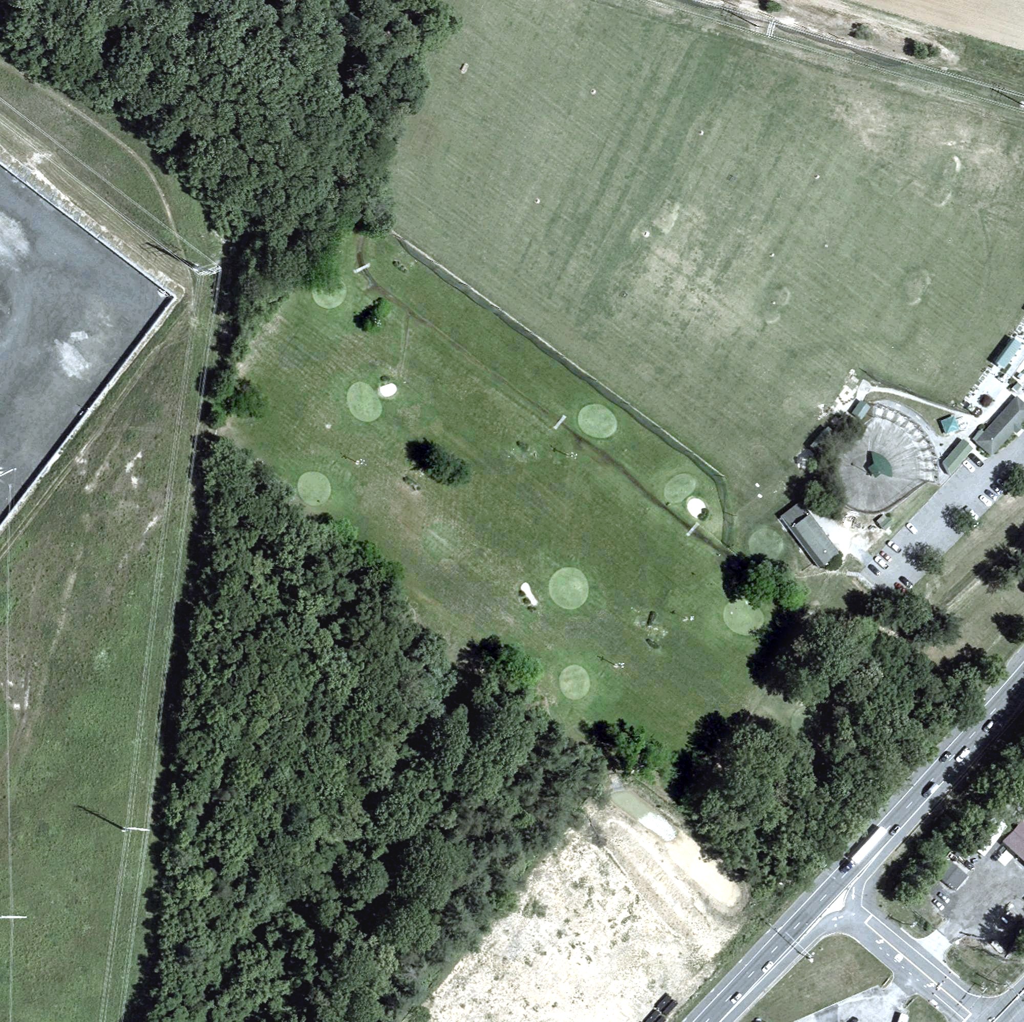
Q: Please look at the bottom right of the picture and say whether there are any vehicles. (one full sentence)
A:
Yes, you'll find a vehicle at the bottom right of the picture.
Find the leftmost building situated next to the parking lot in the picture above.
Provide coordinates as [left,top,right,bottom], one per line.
[781,514,839,566]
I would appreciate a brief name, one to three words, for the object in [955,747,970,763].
vehicle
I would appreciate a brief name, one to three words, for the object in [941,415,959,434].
gazebo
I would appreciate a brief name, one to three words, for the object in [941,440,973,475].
building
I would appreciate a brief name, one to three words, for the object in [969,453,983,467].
car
